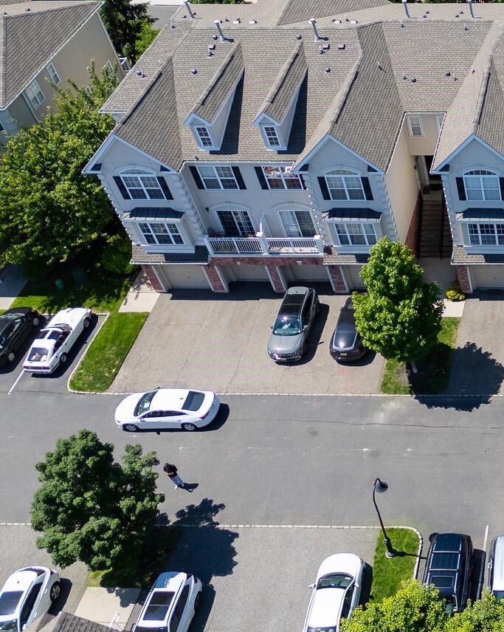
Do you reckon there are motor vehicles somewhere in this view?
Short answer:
Yes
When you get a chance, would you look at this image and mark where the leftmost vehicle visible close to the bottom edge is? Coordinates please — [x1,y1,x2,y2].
[0,567,60,632]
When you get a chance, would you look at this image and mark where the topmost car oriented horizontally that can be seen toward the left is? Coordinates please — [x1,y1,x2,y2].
[112,391,223,439]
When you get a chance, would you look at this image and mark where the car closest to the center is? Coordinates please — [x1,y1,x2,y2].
[265,283,330,363]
